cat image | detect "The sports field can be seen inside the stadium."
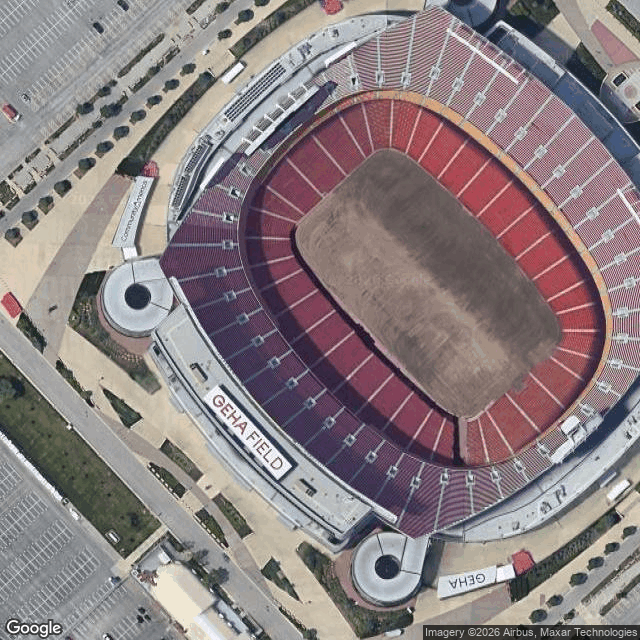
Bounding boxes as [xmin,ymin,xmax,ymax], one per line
[294,147,561,419]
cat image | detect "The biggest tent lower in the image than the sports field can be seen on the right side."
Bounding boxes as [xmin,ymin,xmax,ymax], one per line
[512,550,535,575]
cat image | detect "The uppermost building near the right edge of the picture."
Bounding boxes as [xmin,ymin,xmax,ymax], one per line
[601,60,640,125]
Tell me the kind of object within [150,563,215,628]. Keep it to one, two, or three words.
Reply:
building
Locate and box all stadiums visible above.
[146,4,640,553]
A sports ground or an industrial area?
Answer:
sports ground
